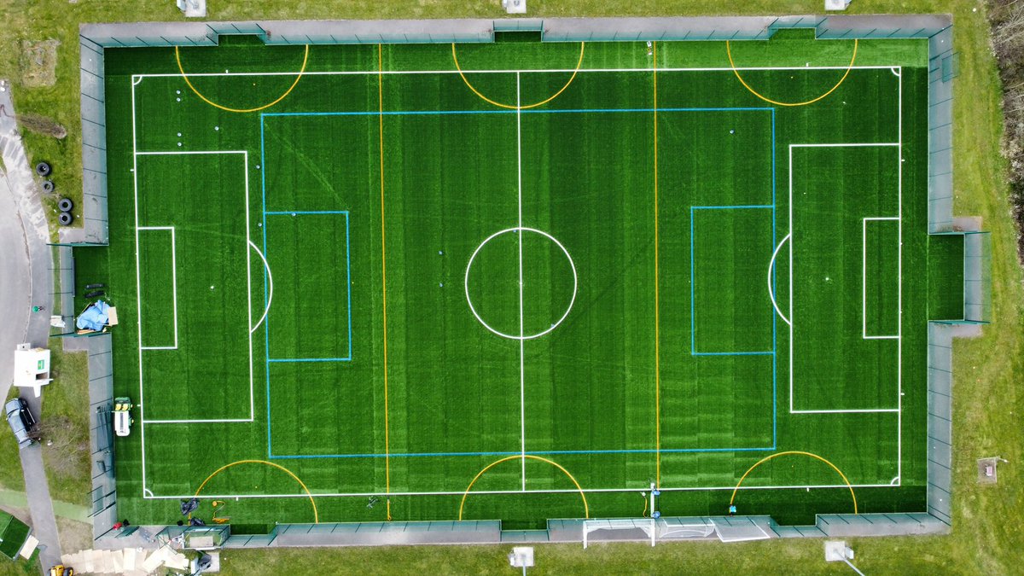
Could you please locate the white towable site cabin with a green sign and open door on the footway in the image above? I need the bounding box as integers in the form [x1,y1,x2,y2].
[14,331,53,400]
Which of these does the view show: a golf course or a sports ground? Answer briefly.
sports ground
